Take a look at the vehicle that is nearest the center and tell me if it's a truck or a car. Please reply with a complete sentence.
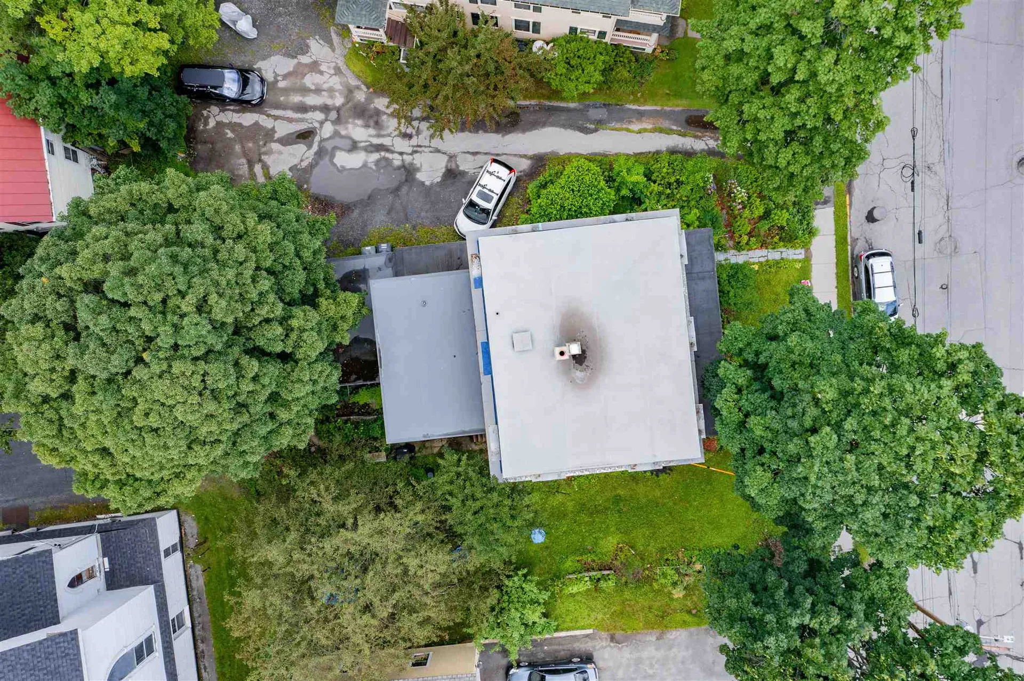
It looks like the vehicle that is nearest the center is a car.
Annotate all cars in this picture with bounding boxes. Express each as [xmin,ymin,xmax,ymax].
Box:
[456,152,516,235]
[854,244,907,328]
[172,60,266,108]
[509,657,600,681]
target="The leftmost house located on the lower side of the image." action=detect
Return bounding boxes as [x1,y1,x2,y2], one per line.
[0,511,199,681]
